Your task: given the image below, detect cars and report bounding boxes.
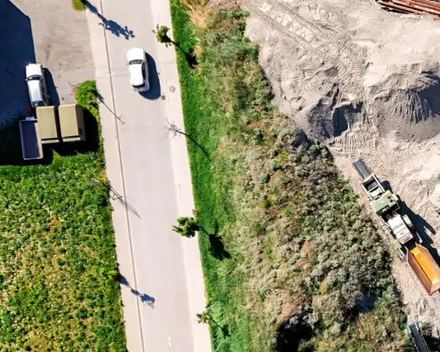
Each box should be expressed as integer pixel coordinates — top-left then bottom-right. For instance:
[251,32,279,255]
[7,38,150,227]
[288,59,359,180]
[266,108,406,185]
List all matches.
[122,45,151,91]
[21,61,49,108]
